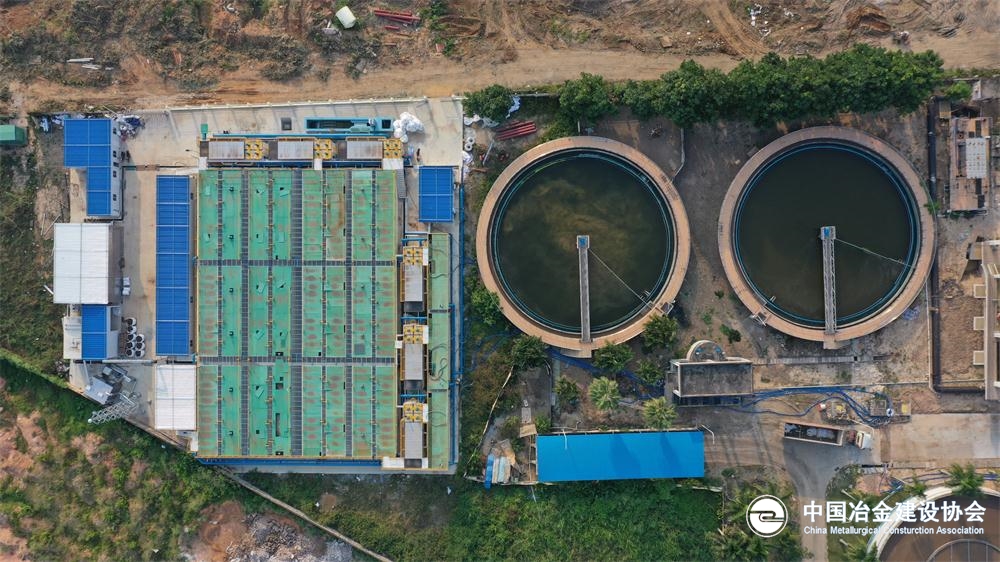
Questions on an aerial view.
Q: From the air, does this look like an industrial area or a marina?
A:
industrial area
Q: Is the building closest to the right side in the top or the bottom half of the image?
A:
bottom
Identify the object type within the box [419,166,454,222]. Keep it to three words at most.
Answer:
shed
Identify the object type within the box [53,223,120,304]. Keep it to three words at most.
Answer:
building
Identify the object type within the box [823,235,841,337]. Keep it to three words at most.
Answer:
bridge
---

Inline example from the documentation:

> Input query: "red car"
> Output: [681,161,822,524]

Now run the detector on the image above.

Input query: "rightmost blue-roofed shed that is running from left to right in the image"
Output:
[536,424,704,483]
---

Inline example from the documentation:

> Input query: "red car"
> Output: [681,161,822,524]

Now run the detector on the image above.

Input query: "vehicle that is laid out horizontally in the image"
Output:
[787,422,875,454]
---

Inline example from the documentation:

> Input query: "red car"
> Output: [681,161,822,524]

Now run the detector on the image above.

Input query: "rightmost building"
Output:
[672,362,753,397]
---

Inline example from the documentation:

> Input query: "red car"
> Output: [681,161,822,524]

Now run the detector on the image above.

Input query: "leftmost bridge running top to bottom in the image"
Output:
[579,242,593,341]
